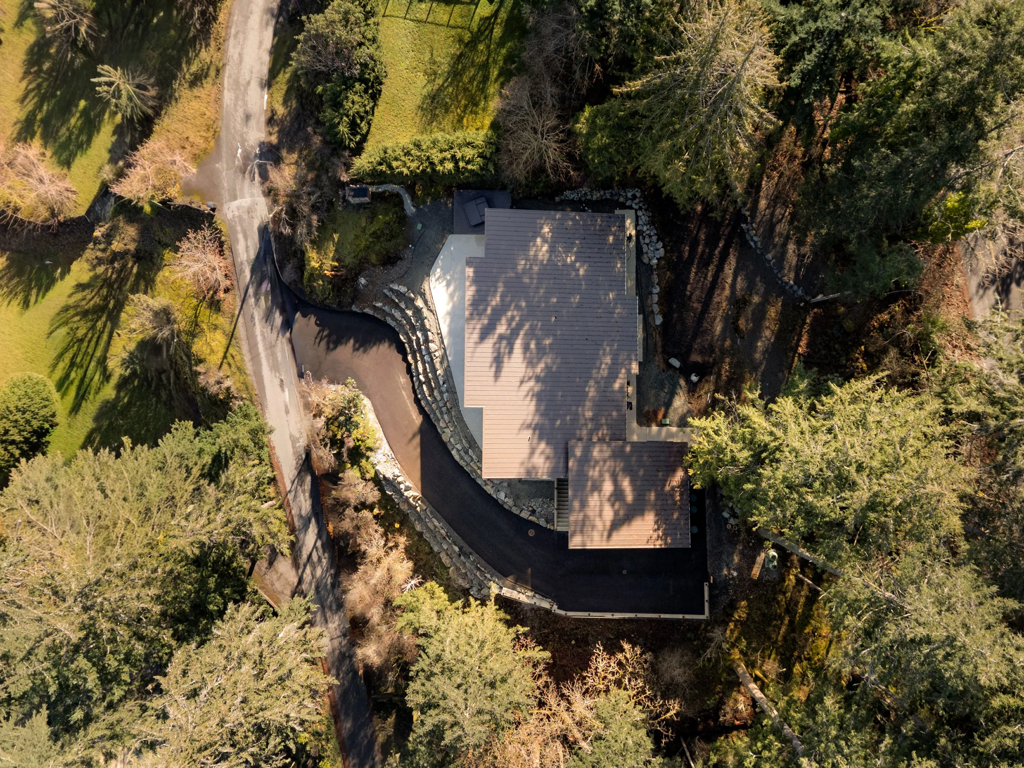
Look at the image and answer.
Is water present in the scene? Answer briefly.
No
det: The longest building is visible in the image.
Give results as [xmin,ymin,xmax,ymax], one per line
[464,208,691,548]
